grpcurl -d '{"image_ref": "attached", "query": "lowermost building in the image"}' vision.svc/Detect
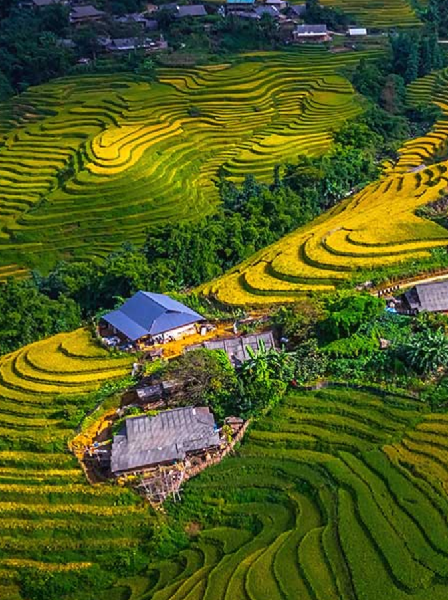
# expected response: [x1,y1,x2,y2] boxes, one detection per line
[104,399,223,482]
